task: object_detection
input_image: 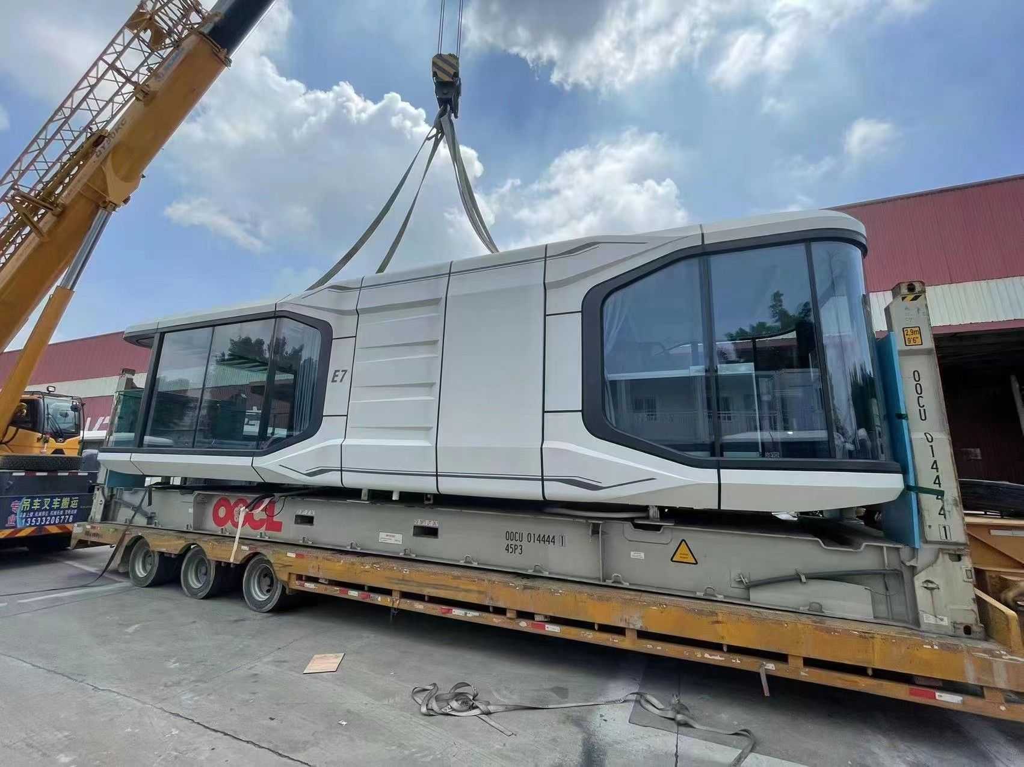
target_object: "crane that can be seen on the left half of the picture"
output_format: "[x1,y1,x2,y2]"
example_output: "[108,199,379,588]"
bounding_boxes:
[0,0,278,554]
